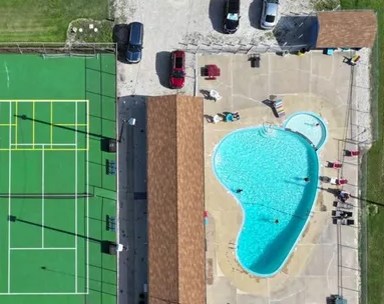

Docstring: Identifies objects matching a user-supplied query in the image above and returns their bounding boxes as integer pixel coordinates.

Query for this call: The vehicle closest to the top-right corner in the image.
[259,0,278,30]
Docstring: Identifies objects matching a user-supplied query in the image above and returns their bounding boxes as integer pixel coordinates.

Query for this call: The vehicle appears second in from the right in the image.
[220,0,241,35]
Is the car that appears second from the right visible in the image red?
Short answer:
No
